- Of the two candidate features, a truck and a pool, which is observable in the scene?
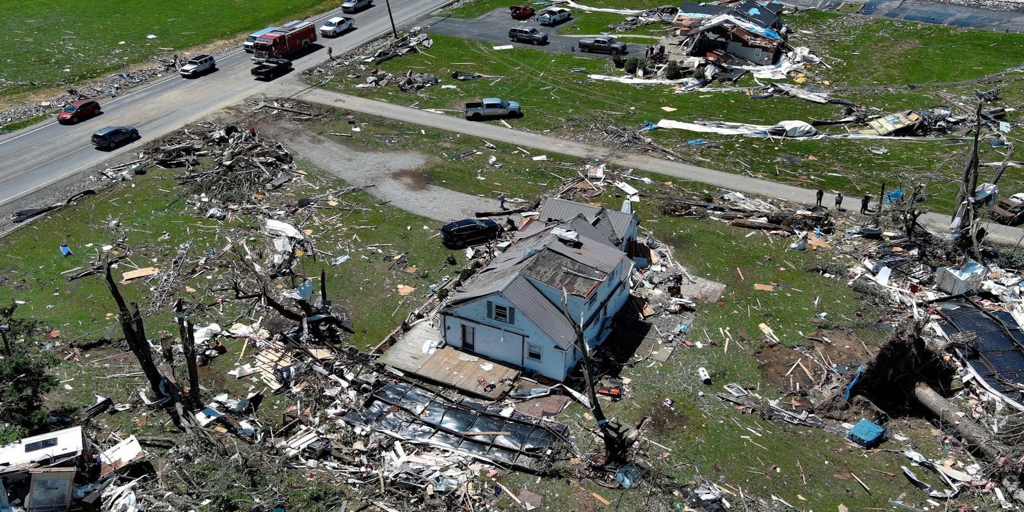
truck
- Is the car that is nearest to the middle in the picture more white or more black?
black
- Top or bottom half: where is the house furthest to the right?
top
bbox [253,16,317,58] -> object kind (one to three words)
truck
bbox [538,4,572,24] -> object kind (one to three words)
vehicle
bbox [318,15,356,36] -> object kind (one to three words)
truck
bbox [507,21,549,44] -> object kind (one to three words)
car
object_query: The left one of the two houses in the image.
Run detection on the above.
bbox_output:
[432,192,652,382]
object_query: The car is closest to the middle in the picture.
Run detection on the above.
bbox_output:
[437,212,503,247]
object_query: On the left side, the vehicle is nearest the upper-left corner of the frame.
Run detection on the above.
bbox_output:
[55,96,104,122]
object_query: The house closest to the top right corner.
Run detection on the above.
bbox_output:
[675,0,789,65]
